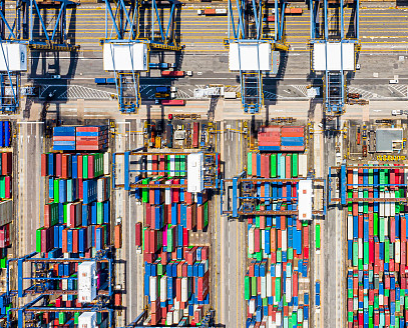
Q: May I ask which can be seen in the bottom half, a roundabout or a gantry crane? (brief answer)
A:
gantry crane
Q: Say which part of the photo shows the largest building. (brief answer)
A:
right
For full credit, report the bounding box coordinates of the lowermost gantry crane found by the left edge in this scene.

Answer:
[7,289,116,328]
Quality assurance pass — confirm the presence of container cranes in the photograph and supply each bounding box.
[7,243,116,299]
[306,0,363,115]
[223,0,291,115]
[328,156,408,205]
[221,168,327,219]
[0,0,84,116]
[100,0,185,115]
[114,143,220,191]
[114,307,220,328]
[7,289,116,328]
